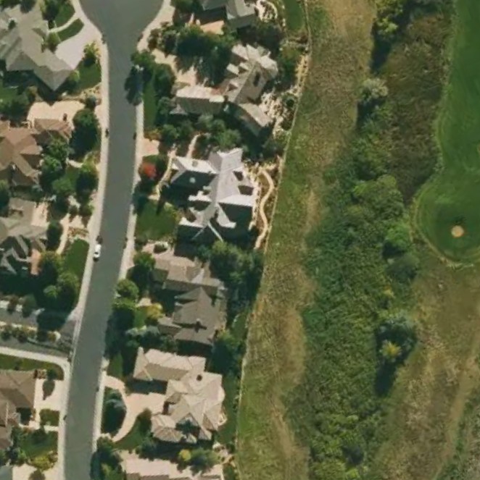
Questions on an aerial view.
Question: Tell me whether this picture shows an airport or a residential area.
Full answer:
What you see here is a residential area.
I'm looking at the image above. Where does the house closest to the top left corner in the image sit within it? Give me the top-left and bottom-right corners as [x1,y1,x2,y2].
[0,0,70,92]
